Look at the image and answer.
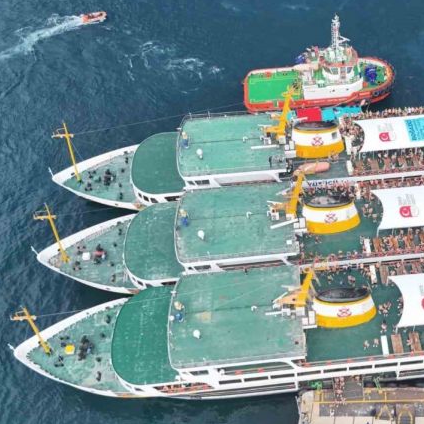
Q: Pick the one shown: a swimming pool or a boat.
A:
boat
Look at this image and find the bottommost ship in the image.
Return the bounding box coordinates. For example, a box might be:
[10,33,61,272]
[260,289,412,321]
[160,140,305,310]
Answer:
[3,257,424,402]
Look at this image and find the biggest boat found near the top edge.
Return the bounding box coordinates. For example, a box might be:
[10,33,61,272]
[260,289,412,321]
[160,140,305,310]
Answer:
[242,12,397,116]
